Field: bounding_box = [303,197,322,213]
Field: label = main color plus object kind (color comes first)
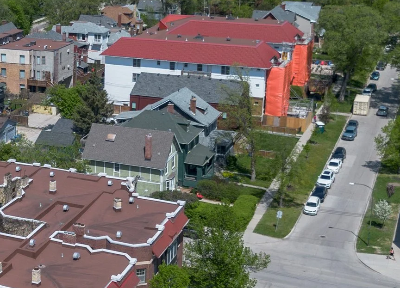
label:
white car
